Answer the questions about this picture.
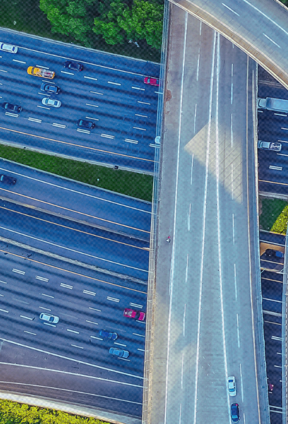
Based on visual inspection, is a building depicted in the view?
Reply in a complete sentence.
No, no building can be seen from above.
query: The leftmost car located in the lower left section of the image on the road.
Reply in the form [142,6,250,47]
[40,312,61,324]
